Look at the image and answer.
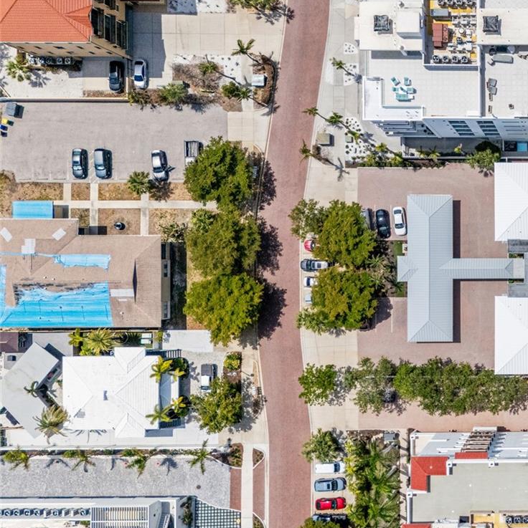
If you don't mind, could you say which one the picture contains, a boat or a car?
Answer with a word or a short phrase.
car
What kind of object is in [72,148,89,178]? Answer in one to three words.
car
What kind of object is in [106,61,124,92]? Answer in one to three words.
car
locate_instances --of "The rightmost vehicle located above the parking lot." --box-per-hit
[132,58,149,90]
